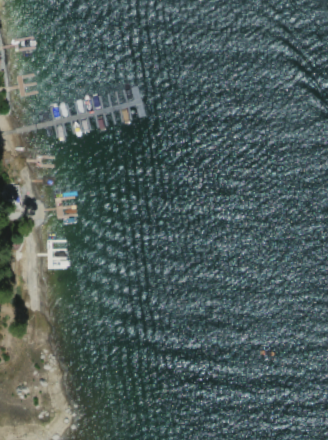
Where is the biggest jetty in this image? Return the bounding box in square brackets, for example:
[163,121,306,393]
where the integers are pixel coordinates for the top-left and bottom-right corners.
[2,86,146,138]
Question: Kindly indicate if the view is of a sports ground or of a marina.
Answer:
marina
